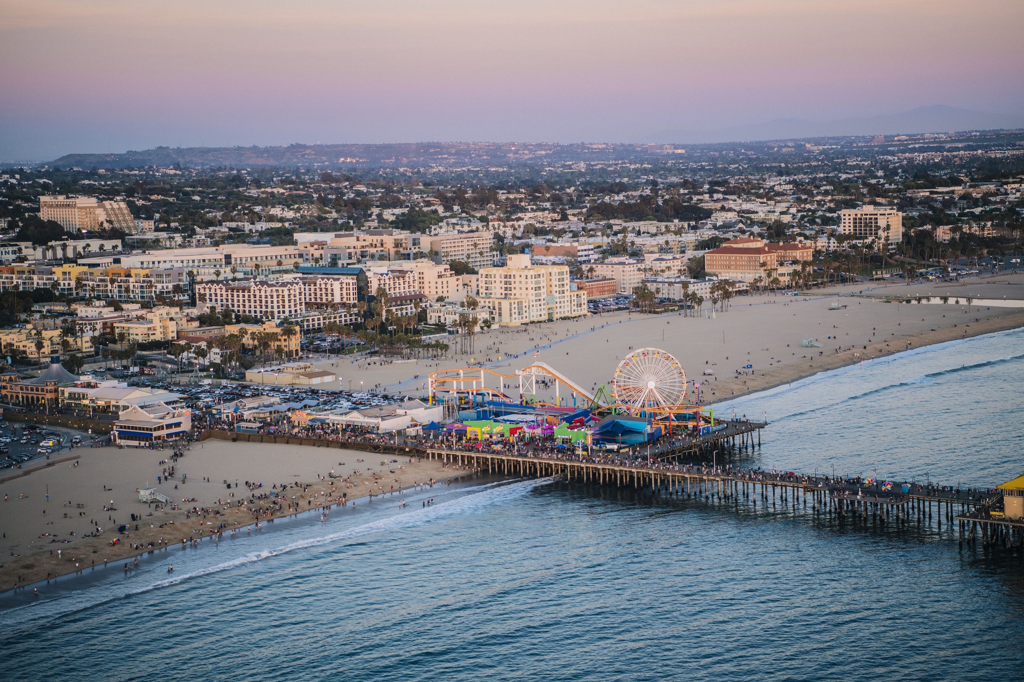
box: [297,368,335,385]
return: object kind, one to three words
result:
building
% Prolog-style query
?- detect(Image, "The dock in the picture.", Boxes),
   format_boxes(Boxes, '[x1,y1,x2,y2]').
[0,371,1024,543]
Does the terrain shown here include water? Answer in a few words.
Yes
